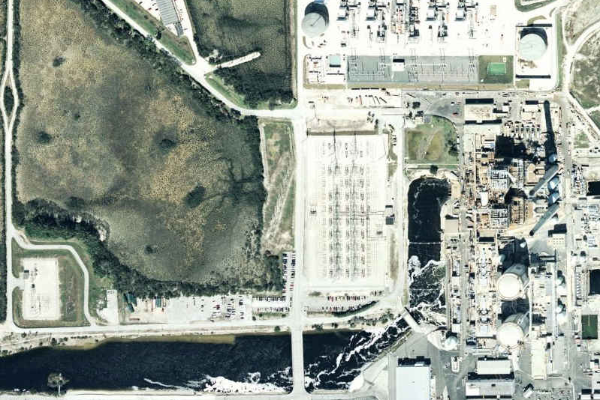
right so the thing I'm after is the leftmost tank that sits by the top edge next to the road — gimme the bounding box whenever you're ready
[302,8,331,37]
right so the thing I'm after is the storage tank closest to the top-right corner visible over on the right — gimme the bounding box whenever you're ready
[519,31,548,60]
